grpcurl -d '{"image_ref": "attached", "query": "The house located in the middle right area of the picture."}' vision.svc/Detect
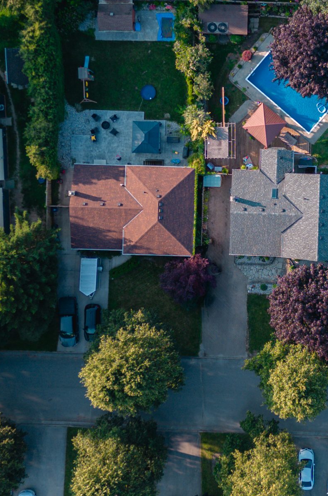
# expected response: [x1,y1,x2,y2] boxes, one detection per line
[229,146,328,263]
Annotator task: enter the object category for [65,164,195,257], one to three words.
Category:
house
